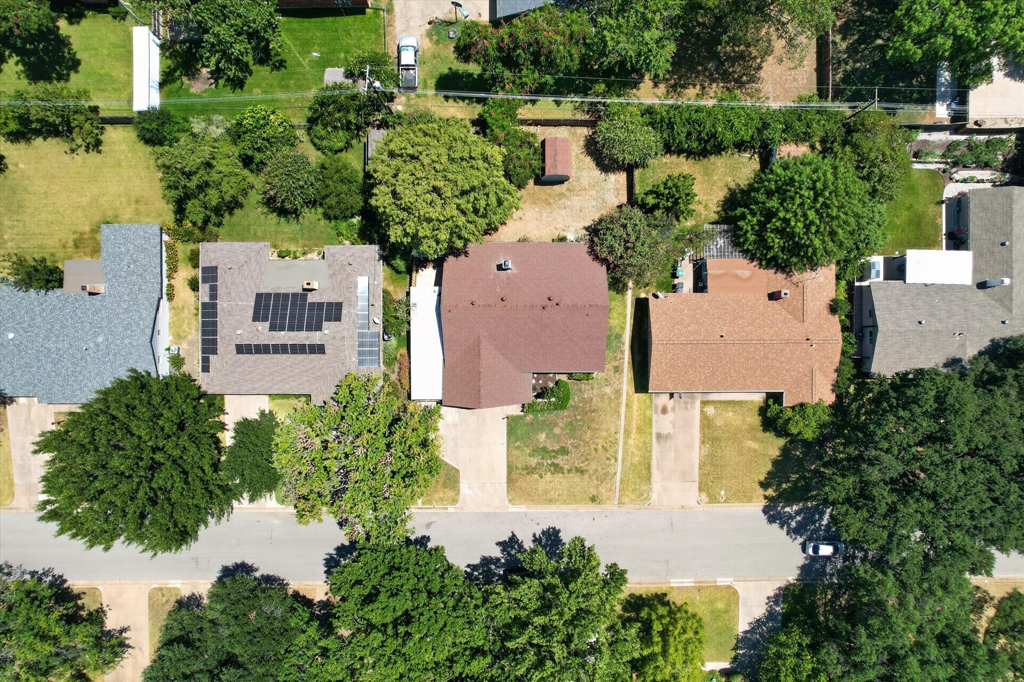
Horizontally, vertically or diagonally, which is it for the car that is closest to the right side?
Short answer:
horizontally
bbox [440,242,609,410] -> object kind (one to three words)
house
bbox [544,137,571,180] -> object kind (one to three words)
shed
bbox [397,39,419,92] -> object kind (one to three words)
truck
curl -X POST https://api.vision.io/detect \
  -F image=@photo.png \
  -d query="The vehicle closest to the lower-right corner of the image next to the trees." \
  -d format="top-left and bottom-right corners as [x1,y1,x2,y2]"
[802,538,844,559]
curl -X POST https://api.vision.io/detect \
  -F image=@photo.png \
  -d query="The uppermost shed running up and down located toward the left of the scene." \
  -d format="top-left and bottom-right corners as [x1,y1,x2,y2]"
[133,26,160,116]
